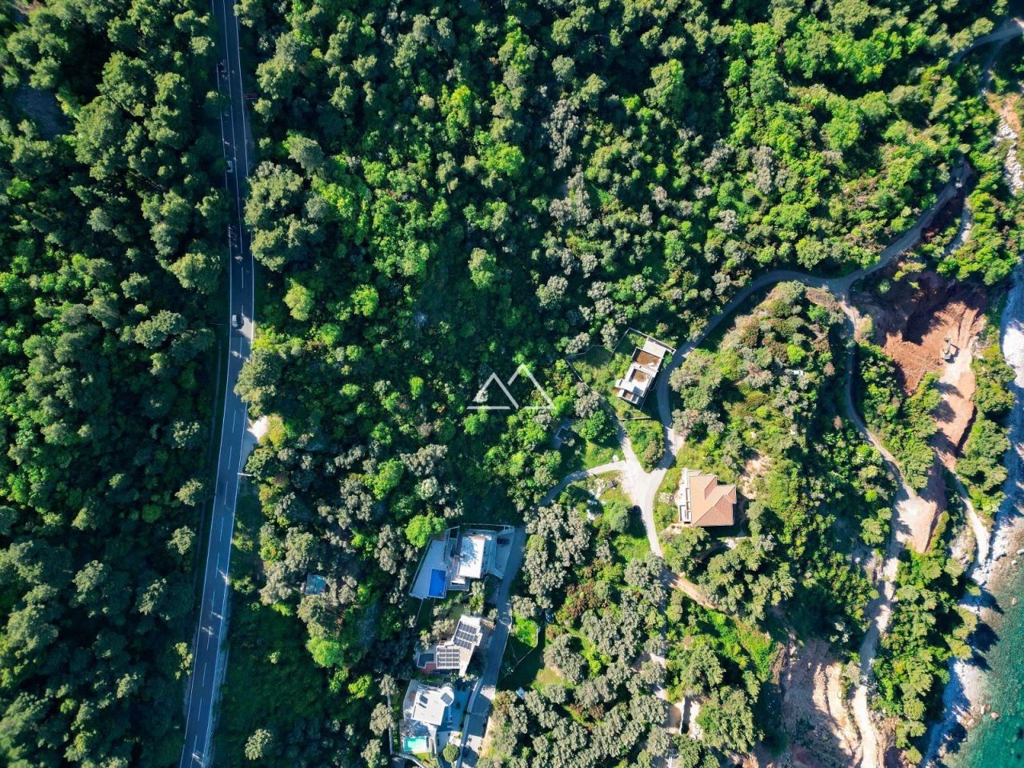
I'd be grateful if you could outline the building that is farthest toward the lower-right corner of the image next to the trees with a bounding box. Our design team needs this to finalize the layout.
[674,468,737,526]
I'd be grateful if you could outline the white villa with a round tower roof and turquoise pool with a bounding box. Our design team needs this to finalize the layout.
[400,679,472,755]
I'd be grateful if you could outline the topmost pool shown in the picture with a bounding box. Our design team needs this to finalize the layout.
[427,568,448,598]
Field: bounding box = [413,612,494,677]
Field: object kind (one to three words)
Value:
house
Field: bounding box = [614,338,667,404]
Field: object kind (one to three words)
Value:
house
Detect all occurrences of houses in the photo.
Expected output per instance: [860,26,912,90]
[400,679,472,755]
[409,525,513,600]
[674,468,737,526]
[614,338,667,404]
[413,612,494,677]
